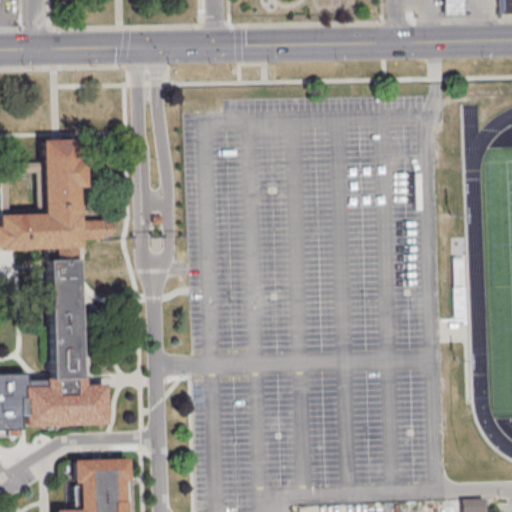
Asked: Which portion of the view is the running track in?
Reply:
right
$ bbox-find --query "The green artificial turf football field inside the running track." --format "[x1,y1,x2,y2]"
[482,147,512,418]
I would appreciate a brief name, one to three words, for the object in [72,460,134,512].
building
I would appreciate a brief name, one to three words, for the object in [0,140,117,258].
building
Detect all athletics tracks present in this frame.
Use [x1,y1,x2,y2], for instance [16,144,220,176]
[459,105,512,464]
